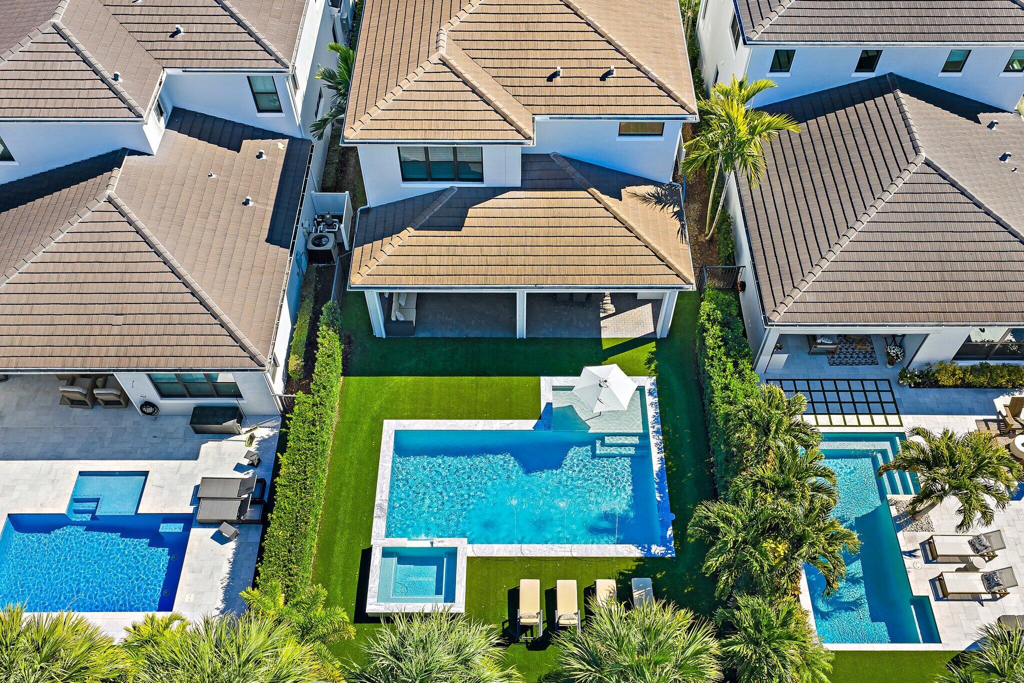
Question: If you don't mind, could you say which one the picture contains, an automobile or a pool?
pool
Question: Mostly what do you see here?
buildings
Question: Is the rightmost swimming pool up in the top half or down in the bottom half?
bottom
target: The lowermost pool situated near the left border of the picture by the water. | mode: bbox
[0,463,200,621]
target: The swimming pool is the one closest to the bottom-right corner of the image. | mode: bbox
[797,426,951,652]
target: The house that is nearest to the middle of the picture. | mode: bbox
[338,0,702,338]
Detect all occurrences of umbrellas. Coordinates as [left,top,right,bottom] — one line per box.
[570,365,639,418]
